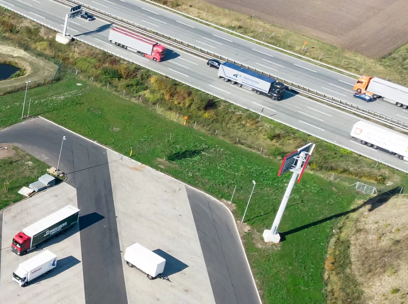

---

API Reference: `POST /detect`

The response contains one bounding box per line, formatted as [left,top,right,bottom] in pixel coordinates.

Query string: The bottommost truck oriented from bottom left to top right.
[9,249,57,288]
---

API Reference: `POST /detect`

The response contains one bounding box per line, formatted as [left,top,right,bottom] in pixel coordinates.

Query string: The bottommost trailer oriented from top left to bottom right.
[123,243,169,282]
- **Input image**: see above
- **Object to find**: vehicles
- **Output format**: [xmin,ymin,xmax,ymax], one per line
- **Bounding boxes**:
[354,76,408,110]
[206,60,221,68]
[108,27,168,63]
[353,93,374,104]
[217,61,287,100]
[77,13,95,22]
[349,122,408,163]
[9,249,57,288]
[10,205,80,255]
